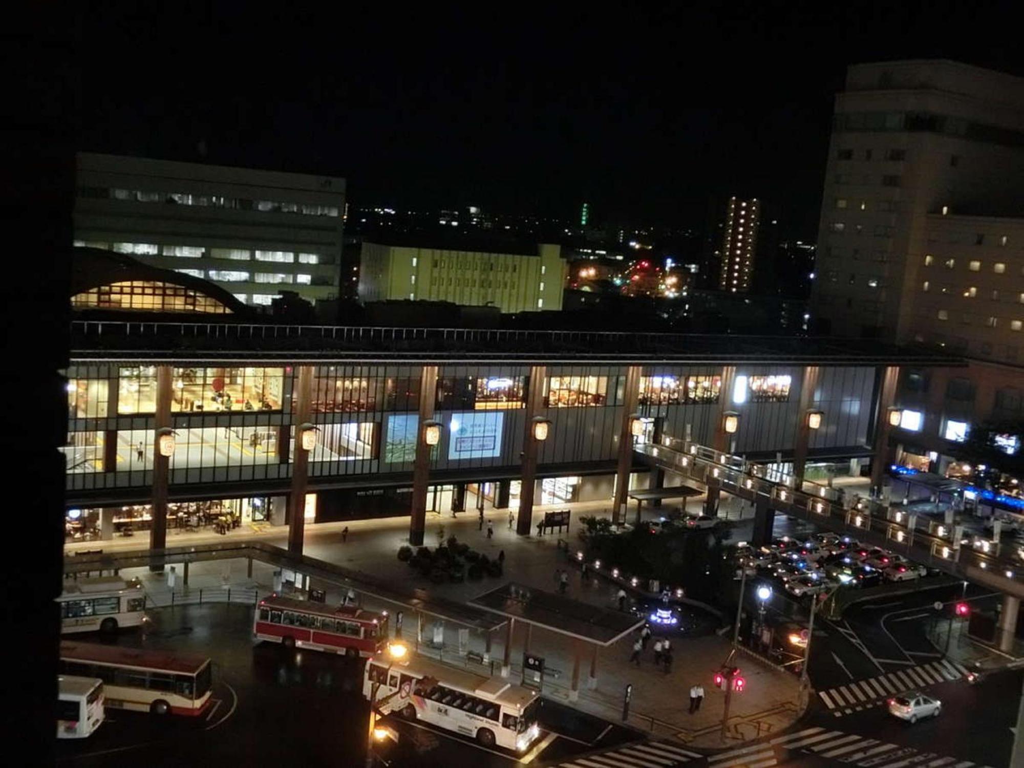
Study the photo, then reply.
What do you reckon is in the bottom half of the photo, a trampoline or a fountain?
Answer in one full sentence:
There is a fountain in the bottom half of the photo.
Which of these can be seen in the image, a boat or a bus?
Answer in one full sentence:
There is a bus in the scene.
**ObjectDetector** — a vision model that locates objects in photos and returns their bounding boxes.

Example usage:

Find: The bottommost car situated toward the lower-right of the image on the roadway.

[883,687,944,721]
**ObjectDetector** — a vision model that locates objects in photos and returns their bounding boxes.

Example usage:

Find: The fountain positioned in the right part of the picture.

[615,592,729,640]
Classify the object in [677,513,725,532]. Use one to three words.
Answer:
car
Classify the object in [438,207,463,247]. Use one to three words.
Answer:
building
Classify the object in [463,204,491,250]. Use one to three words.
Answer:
building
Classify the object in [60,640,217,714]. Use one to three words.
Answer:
bus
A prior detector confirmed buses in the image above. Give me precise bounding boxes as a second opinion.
[60,640,217,714]
[360,638,547,748]
[58,580,153,637]
[254,595,396,657]
[59,675,100,737]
